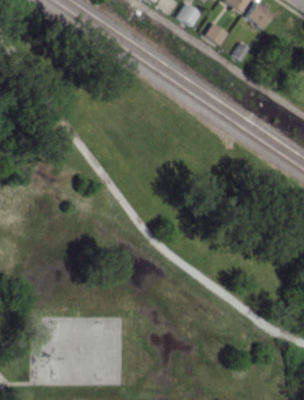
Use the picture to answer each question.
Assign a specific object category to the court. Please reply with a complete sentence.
The court is a basketball court.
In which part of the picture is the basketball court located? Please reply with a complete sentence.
The basketball court sits in the bottom left section of the image.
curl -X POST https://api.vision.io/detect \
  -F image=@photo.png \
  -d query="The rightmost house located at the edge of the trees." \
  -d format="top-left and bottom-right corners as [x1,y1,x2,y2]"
[244,3,274,33]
